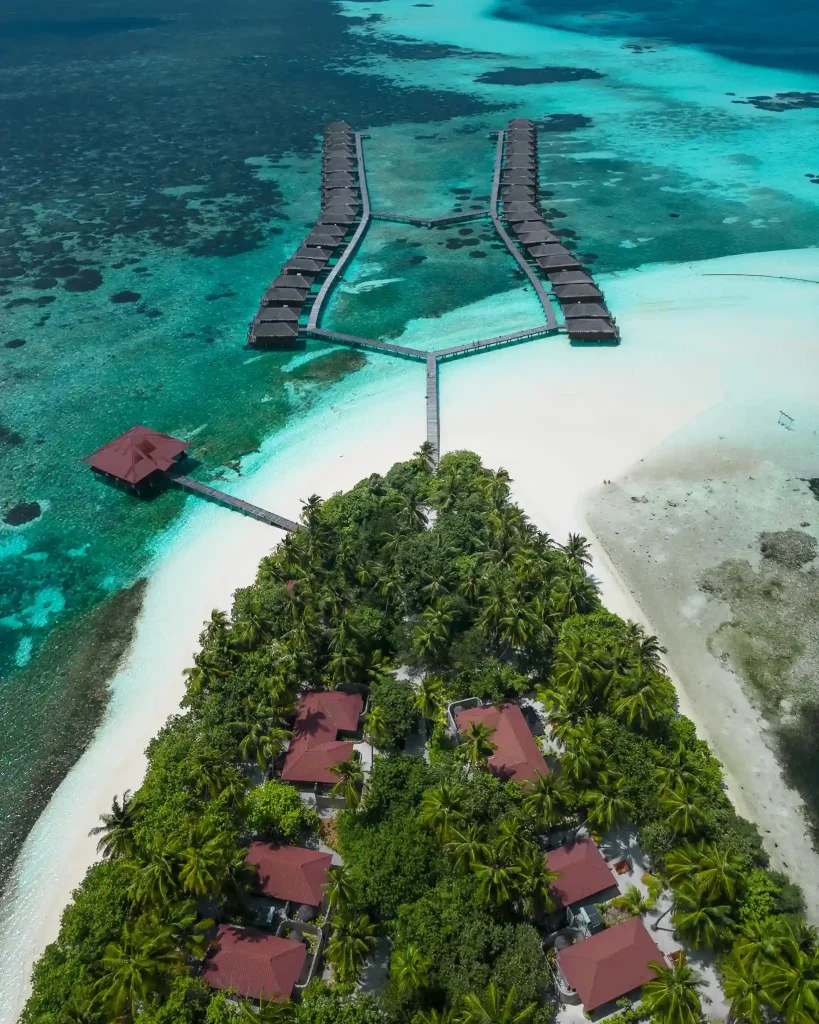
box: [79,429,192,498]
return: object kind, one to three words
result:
building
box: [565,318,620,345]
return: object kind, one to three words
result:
house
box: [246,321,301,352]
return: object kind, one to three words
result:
house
